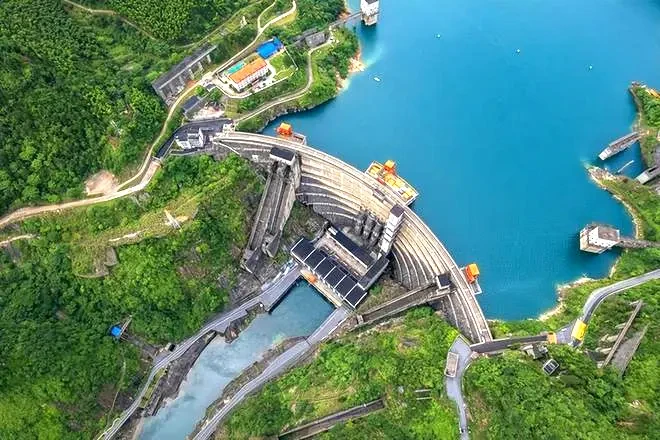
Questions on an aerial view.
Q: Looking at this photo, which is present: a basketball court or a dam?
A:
dam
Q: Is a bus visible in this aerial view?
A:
No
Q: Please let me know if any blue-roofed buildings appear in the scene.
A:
Yes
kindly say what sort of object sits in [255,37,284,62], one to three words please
building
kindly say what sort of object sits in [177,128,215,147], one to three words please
building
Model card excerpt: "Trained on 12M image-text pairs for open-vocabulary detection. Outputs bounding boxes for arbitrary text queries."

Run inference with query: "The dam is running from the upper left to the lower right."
[213,130,492,341]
